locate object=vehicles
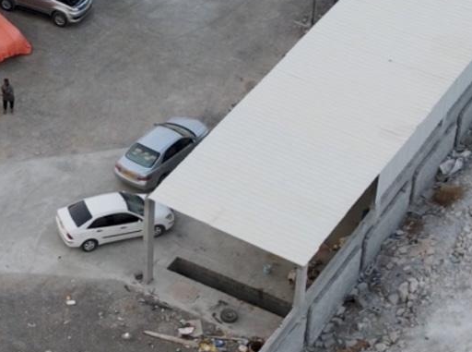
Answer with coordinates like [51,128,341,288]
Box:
[116,121,210,193]
[60,192,180,252]
[0,0,94,27]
